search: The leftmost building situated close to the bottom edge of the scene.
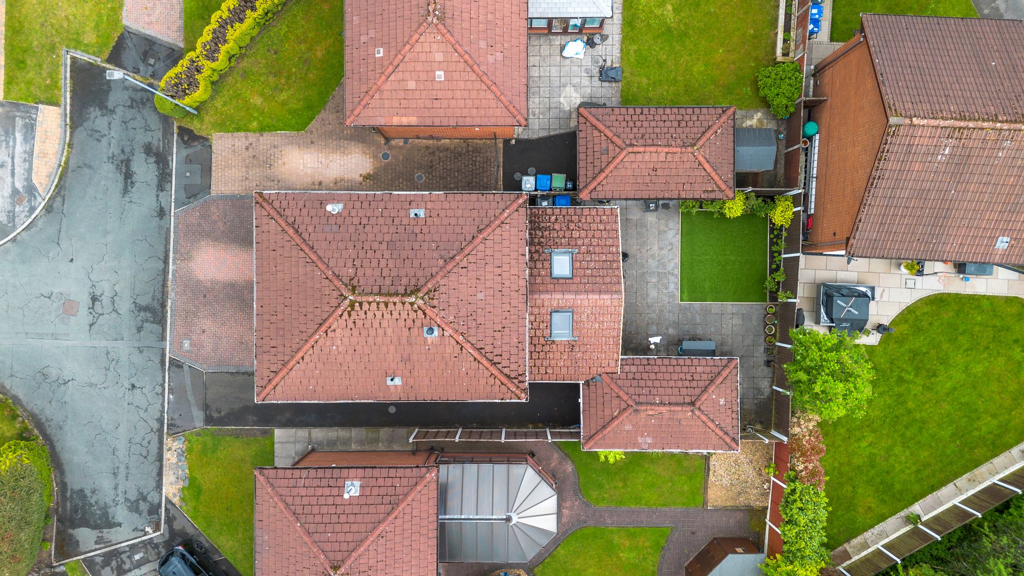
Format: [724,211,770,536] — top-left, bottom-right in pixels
[253,447,440,576]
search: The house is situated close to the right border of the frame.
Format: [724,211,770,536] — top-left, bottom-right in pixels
[802,13,1024,268]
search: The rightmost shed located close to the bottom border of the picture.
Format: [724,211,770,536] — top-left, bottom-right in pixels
[685,537,766,576]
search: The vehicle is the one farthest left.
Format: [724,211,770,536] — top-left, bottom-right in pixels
[144,541,214,576]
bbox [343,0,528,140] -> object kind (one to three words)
house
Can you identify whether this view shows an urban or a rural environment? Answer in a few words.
urban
